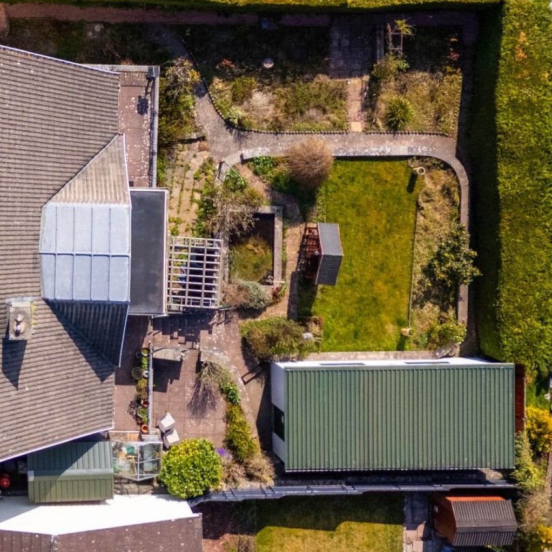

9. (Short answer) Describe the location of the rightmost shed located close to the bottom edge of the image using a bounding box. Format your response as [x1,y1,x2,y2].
[431,488,517,546]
